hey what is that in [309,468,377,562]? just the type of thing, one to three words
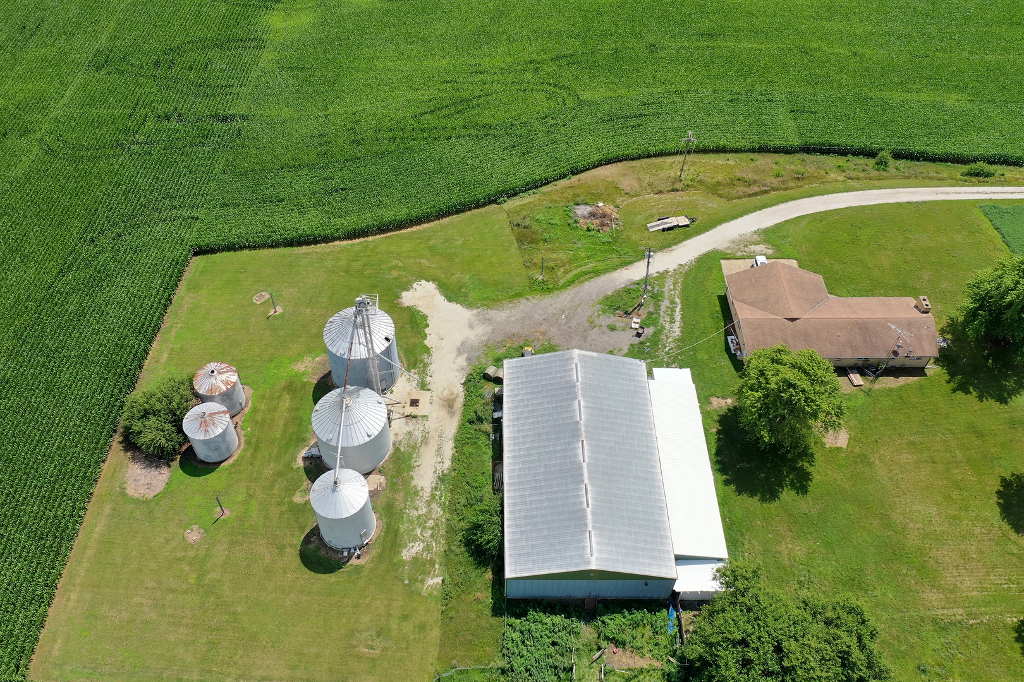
silo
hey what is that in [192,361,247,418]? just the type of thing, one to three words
silo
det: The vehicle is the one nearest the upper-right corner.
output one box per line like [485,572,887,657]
[750,253,769,267]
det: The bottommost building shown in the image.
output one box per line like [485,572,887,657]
[504,349,729,600]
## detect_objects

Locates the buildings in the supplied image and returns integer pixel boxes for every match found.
[504,349,729,600]
[724,261,940,369]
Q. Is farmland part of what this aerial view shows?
Yes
